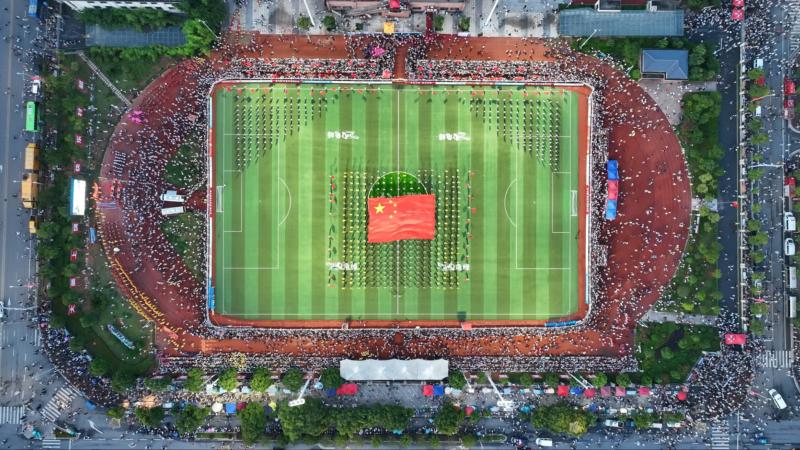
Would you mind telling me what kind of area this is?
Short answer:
sports ground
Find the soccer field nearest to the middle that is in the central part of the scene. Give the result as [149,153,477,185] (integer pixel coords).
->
[210,81,591,327]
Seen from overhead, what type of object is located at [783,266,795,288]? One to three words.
vehicle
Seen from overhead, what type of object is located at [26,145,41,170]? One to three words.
vehicle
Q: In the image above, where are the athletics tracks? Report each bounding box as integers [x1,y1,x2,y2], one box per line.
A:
[94,38,693,355]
